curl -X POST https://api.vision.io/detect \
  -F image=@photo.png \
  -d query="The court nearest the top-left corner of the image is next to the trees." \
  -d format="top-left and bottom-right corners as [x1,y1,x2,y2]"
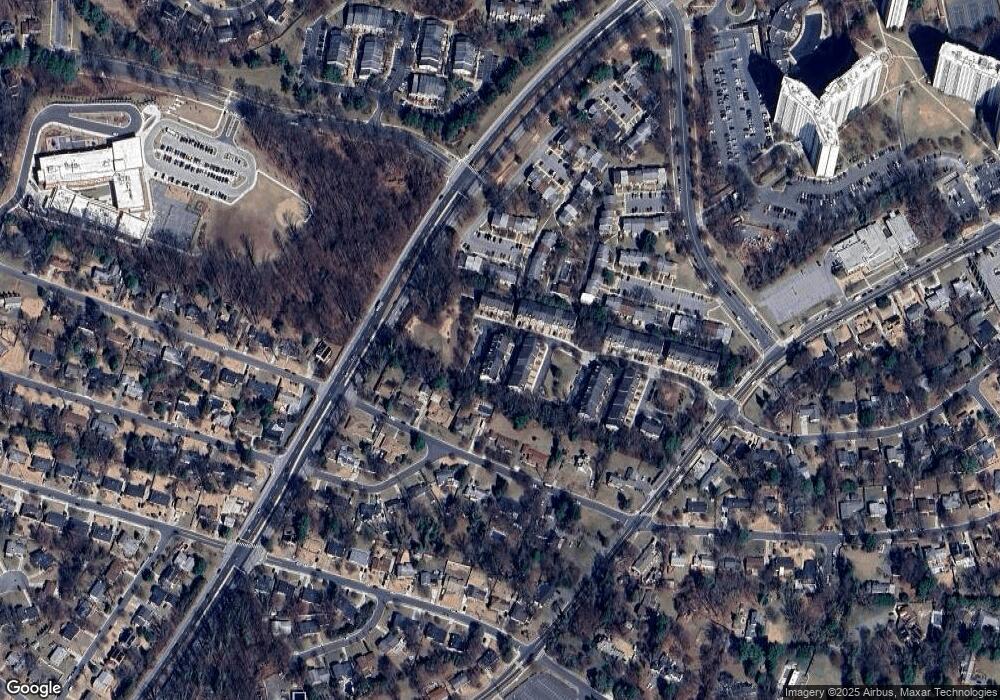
[150,185,200,248]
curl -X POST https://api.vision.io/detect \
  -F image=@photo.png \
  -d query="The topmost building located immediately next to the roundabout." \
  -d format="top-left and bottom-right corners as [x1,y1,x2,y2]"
[770,0,806,75]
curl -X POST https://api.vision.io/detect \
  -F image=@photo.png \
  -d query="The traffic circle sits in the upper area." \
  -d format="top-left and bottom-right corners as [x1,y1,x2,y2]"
[715,0,758,24]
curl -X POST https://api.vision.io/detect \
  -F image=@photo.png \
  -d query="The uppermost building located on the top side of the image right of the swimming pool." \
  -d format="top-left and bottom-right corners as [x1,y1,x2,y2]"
[869,0,909,31]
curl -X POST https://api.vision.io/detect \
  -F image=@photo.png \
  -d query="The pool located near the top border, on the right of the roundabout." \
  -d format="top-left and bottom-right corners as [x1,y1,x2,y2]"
[788,11,832,63]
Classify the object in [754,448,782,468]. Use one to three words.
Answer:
house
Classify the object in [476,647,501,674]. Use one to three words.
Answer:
house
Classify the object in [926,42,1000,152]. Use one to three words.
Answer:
building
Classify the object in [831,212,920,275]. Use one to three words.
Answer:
building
